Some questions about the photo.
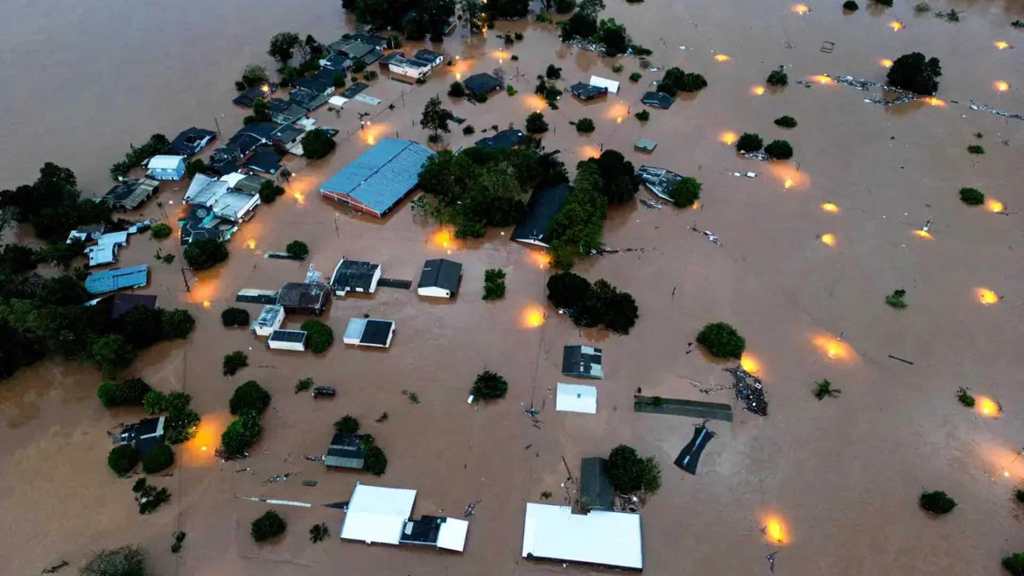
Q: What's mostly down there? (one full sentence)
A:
What you mostly see from above here is water.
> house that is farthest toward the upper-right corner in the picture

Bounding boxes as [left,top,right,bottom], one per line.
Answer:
[641,91,675,112]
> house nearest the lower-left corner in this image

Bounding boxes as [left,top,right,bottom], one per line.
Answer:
[107,417,166,464]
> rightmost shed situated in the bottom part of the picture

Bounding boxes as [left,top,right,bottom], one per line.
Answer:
[635,395,733,422]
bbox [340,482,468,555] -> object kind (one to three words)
building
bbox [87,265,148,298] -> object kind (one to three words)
house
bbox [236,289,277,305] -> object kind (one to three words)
shed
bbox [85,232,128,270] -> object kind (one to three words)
house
